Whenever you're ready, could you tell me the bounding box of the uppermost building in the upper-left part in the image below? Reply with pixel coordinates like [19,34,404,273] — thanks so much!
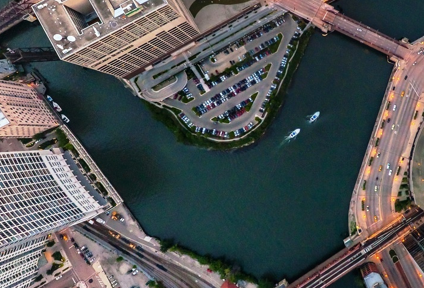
[31,0,200,76]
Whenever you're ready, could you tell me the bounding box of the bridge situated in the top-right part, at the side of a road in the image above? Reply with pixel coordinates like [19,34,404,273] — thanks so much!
[315,0,415,66]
